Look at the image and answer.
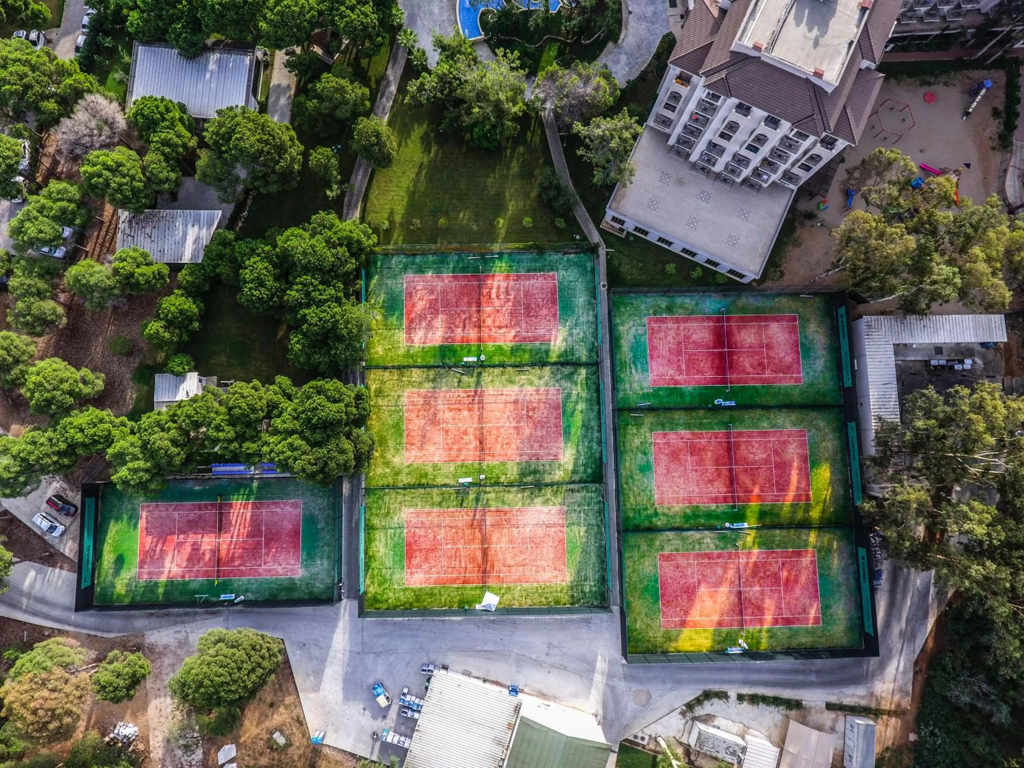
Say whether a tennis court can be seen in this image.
Yes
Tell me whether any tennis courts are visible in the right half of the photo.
Yes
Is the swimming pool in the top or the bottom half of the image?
top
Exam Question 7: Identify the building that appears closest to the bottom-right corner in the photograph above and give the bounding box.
[838,714,876,768]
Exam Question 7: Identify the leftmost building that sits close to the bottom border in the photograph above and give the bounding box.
[403,664,522,768]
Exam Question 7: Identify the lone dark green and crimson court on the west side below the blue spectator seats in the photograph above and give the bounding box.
[94,480,336,605]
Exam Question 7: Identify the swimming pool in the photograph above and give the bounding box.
[458,0,500,37]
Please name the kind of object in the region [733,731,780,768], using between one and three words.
shed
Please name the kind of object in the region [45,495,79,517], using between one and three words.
car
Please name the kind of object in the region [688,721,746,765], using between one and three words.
shed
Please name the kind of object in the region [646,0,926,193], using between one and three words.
building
